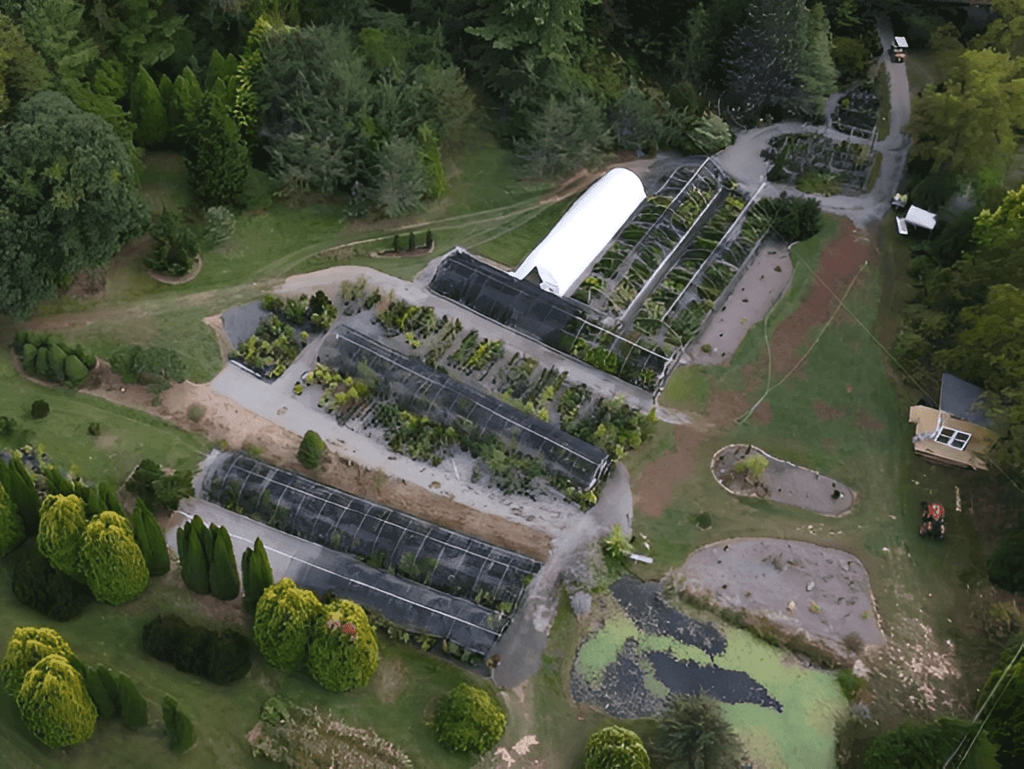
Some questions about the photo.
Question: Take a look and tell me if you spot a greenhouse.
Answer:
Yes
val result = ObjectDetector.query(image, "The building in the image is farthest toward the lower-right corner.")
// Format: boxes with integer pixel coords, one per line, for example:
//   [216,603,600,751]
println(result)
[907,365,1002,475]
